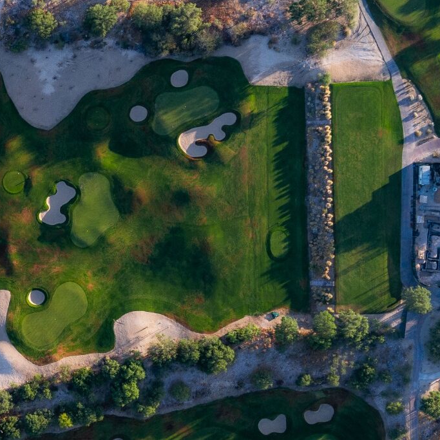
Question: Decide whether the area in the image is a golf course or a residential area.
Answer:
golf course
